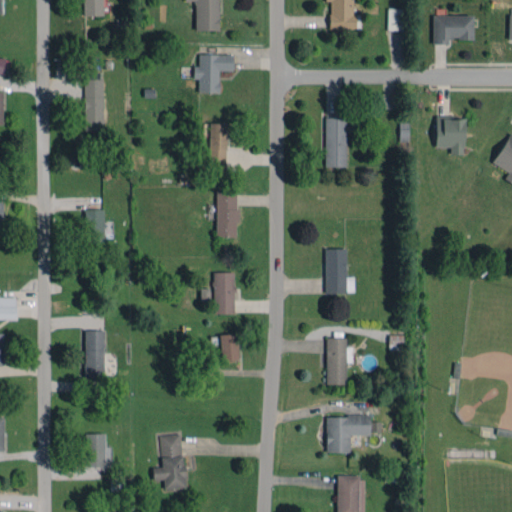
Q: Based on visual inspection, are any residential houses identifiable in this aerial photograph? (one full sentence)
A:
Yes, the photo shows a residential house.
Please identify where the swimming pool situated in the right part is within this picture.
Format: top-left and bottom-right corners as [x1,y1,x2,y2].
[360,355,378,371]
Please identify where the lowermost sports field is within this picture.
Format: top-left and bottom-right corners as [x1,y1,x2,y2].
[446,460,512,512]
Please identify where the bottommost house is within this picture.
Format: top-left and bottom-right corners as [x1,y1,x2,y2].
[338,476,366,512]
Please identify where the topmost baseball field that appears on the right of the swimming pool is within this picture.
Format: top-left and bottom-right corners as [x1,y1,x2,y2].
[454,275,512,432]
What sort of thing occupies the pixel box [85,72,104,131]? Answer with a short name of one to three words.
house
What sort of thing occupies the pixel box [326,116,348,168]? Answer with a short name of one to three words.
house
